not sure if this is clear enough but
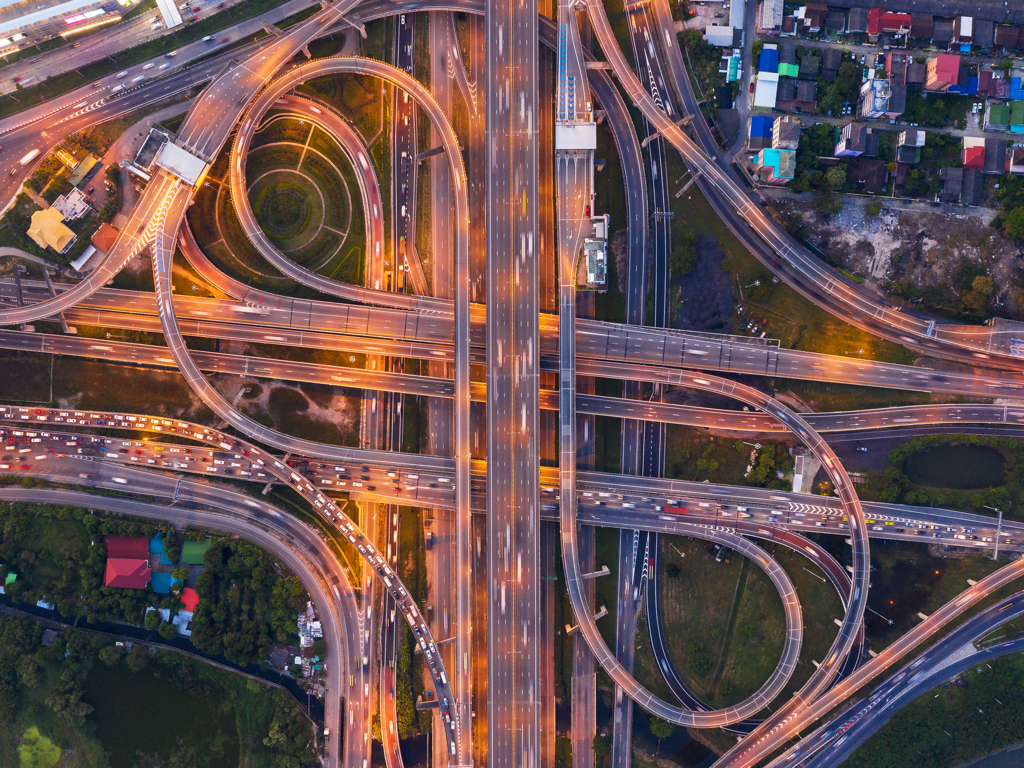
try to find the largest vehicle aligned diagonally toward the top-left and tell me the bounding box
[18,148,38,163]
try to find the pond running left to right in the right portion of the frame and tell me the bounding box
[903,442,1006,489]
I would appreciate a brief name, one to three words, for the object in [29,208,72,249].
house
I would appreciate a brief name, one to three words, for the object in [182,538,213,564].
barn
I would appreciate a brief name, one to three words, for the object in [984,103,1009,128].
house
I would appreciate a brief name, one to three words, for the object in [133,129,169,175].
building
